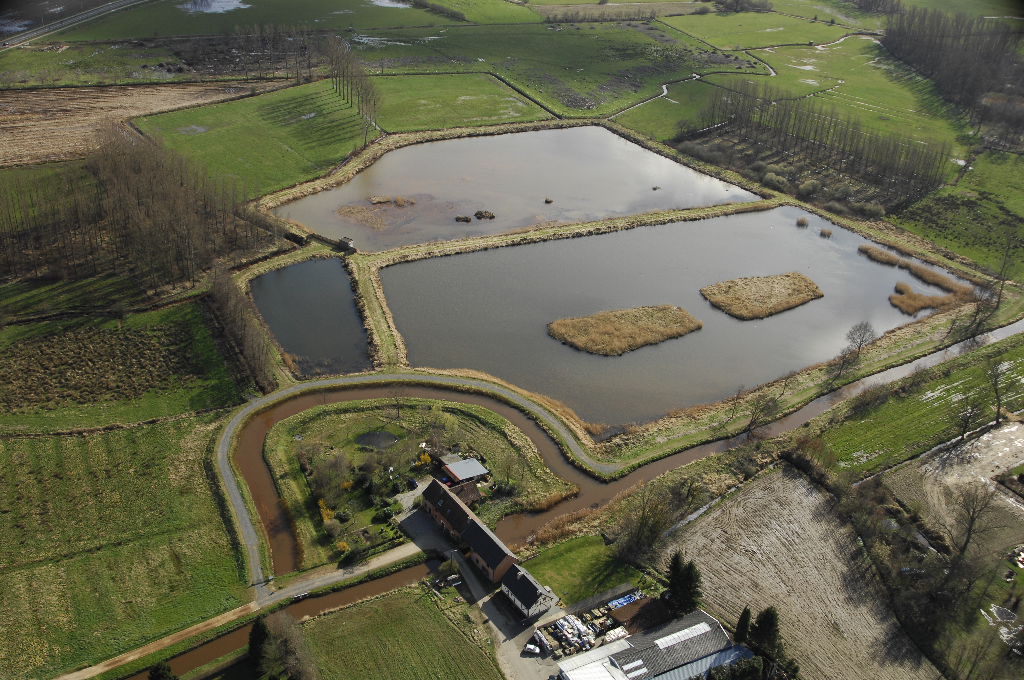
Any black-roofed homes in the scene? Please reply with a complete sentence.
Yes, the image includes a black-roofed home.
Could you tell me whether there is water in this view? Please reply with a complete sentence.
Yes, some water is visible.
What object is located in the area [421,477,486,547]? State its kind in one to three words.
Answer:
house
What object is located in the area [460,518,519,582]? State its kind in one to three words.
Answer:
building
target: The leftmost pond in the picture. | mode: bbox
[250,258,375,376]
